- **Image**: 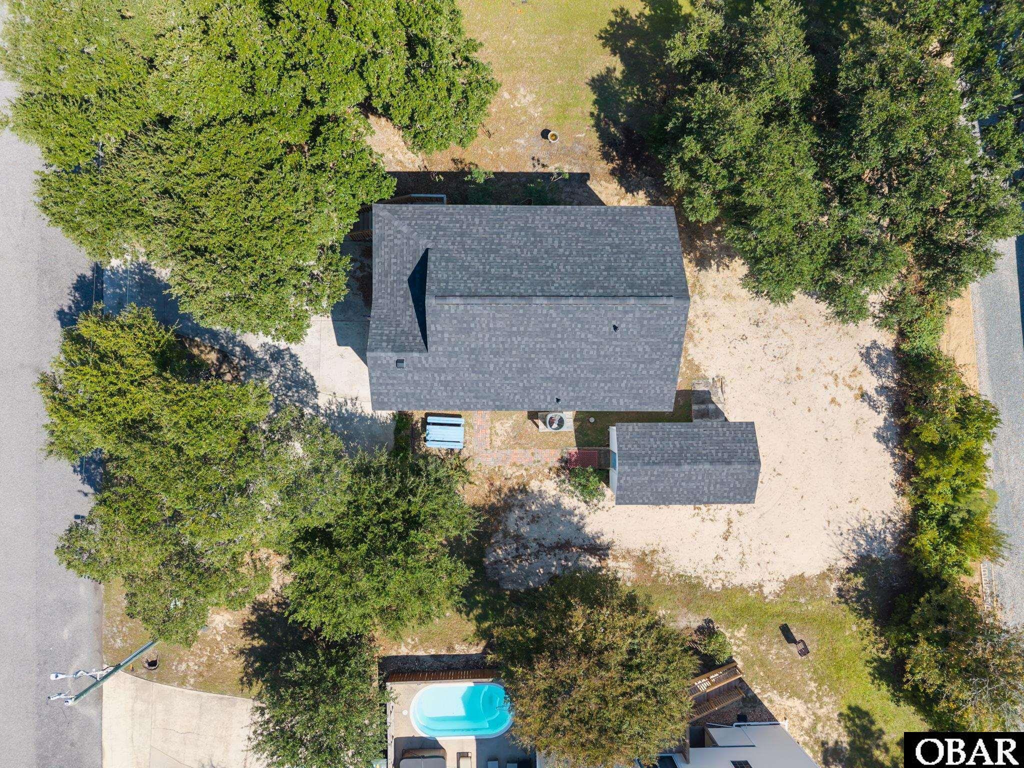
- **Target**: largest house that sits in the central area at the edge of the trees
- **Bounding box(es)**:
[366,204,690,412]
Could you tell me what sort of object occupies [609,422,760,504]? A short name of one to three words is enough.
shed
